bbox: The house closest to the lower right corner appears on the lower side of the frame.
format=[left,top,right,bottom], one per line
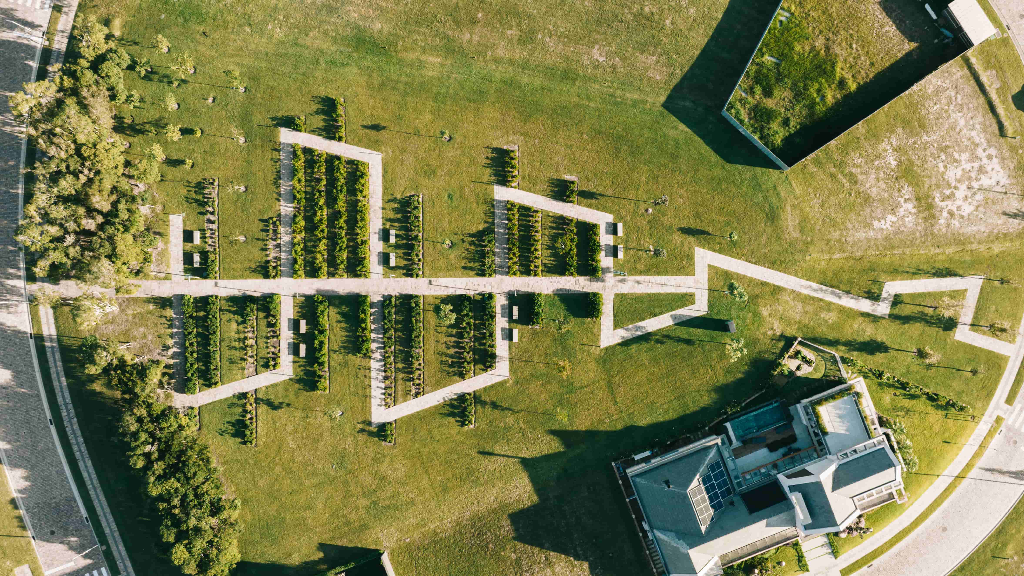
[621,376,908,576]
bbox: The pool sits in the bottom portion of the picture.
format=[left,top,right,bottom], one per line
[724,400,787,446]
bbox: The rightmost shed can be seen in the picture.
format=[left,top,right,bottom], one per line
[941,0,996,49]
